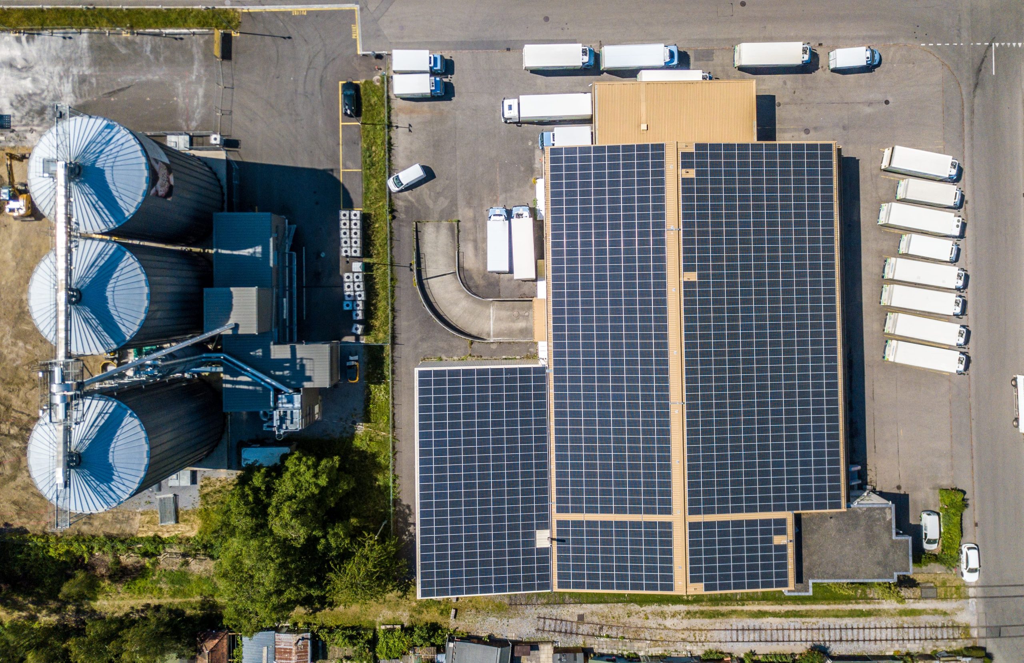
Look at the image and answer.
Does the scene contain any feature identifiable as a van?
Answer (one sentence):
Yes, you can see a van in this photo.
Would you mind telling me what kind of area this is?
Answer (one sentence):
It's an industrial area.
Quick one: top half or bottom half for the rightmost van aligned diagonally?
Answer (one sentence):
The rightmost van aligned diagonally is in the top half of the image.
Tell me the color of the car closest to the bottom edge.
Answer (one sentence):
From above, the car closest to the bottom edge appears white.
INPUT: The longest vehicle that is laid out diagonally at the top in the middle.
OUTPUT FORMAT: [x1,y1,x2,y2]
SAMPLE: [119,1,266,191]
[388,160,426,194]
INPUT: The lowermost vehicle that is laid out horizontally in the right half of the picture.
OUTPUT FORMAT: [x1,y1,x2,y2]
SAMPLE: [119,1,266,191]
[878,339,970,377]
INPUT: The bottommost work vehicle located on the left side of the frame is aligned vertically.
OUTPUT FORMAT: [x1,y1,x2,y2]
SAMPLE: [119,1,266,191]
[346,354,359,382]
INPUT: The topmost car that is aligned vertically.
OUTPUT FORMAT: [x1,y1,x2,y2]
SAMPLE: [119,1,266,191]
[340,81,358,120]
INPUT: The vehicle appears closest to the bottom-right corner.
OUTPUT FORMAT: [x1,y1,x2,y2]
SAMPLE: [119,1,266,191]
[959,543,980,579]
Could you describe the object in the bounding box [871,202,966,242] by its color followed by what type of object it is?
white truck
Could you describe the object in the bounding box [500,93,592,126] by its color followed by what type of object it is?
white truck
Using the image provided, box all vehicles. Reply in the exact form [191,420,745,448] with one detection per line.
[346,354,359,382]
[392,49,446,78]
[890,178,964,212]
[892,234,960,267]
[827,44,883,74]
[340,81,358,120]
[878,339,970,377]
[520,43,594,76]
[917,509,941,547]
[730,41,812,75]
[507,205,535,280]
[634,70,713,80]
[597,43,679,77]
[871,202,966,242]
[500,93,592,126]
[959,543,980,579]
[878,312,971,350]
[1010,375,1024,432]
[392,73,447,101]
[877,258,968,294]
[484,207,511,272]
[874,145,962,185]
[537,126,591,154]
[388,160,426,194]
[875,285,966,320]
